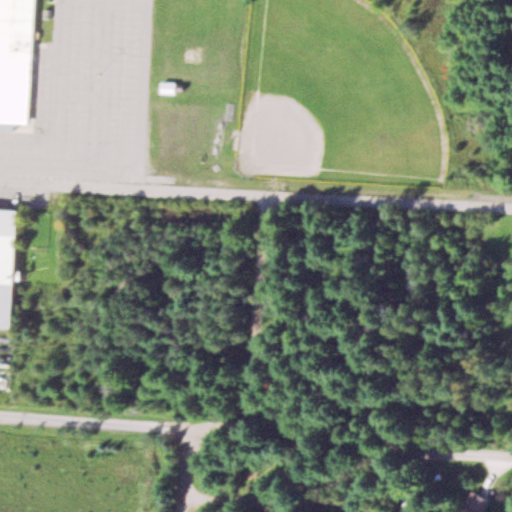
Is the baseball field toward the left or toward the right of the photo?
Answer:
right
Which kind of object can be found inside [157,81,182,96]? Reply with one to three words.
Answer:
shed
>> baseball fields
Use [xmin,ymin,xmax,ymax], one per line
[238,0,446,184]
